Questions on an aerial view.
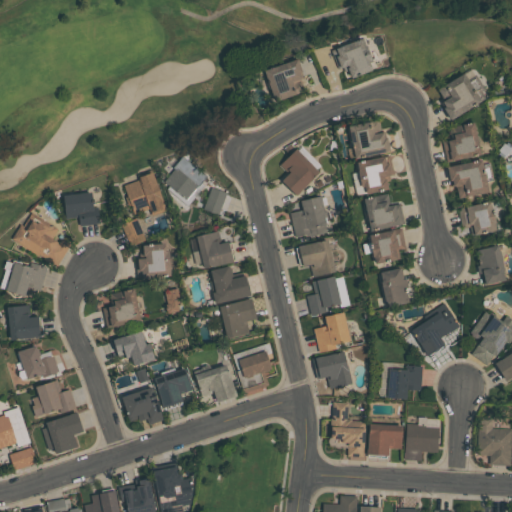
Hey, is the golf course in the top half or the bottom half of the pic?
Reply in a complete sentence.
The top half of the photo is where the golf course is.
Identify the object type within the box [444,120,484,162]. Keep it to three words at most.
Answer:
house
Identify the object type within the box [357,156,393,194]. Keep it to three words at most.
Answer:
house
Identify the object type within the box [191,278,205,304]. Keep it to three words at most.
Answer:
swimming pool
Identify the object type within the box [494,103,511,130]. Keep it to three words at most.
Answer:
swimming pool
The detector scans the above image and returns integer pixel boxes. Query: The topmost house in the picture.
[332,38,376,77]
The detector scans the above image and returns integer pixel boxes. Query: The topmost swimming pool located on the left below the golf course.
[148,218,169,234]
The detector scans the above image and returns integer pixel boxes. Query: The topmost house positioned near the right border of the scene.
[440,72,488,116]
